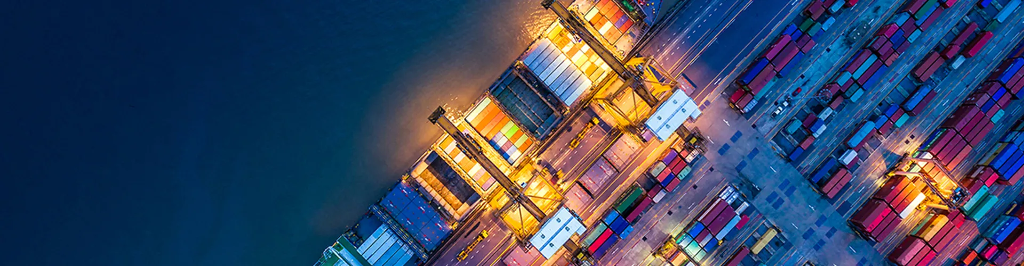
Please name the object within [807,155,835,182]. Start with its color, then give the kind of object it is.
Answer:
blue shipping container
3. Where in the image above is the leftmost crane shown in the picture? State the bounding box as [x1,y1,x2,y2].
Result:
[431,104,595,266]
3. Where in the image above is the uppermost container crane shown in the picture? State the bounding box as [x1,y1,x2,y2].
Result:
[543,0,707,156]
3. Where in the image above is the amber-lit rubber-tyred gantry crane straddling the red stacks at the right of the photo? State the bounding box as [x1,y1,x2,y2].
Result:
[890,152,970,211]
